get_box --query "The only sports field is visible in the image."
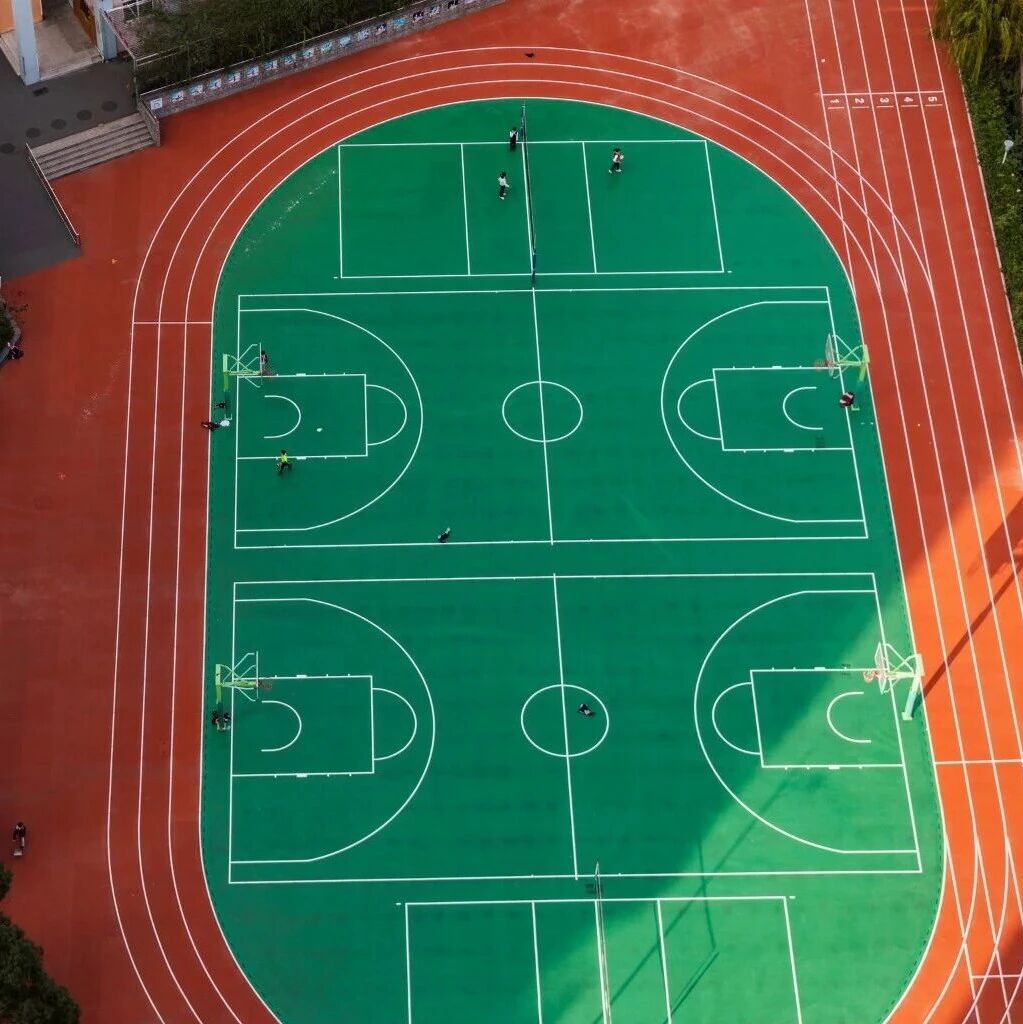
[202,97,943,1024]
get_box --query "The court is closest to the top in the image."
[332,139,732,278]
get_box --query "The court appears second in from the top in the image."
[234,286,868,548]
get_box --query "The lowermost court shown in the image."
[395,896,802,1024]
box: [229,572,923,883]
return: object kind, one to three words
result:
basketball court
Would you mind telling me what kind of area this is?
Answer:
sports ground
